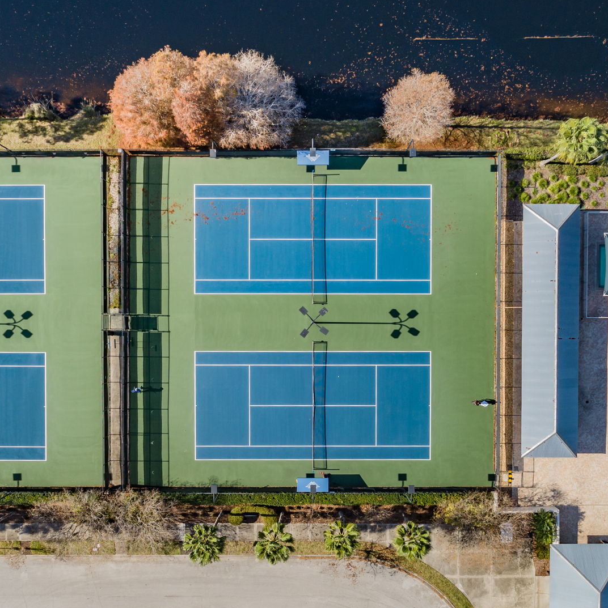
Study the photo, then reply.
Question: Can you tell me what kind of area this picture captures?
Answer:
sports ground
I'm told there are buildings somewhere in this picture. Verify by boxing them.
[522,203,581,458]
[549,543,608,608]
